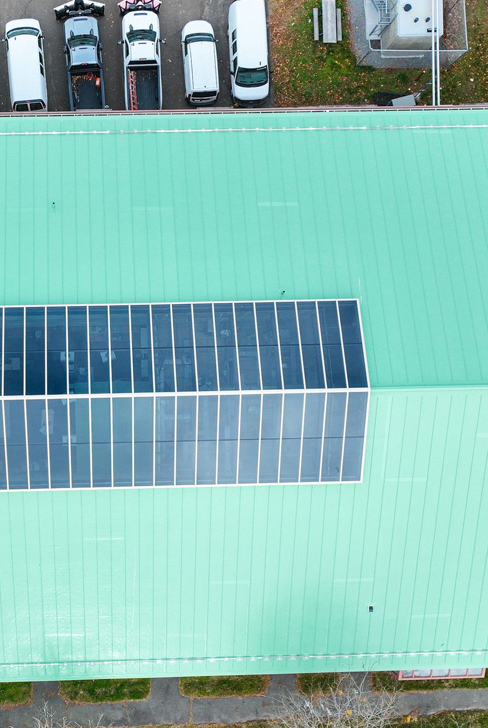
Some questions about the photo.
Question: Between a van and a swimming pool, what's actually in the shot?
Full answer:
There is a van in the scene.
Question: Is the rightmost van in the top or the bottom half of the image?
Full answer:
Seen from above, the rightmost van lies in the top half of the view.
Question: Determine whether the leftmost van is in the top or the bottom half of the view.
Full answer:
The top half of the photo is where the leftmost van is.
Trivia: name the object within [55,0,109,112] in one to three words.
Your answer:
truck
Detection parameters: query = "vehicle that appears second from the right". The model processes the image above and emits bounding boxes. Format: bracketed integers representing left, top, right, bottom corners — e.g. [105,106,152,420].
[179,21,222,107]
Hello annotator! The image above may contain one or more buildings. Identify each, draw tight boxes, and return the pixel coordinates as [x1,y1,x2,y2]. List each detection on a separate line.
[372,0,442,55]
[0,105,488,684]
